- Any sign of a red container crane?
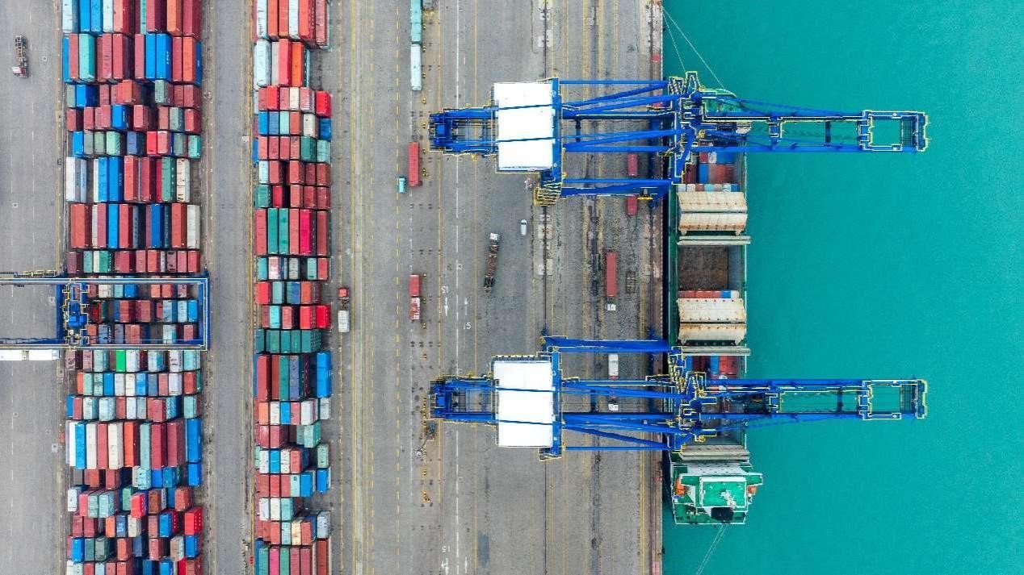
No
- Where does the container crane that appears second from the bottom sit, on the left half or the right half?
left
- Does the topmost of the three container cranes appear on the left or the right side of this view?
right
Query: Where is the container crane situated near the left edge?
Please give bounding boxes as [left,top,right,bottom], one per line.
[0,265,212,360]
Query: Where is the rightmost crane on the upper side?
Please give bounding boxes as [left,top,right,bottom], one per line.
[428,62,929,210]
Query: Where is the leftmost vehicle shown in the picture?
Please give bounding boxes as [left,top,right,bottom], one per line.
[16,35,30,79]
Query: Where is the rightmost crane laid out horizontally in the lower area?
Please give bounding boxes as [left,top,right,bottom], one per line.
[428,332,929,462]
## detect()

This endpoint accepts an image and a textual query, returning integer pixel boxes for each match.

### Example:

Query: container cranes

[428,332,929,462]
[0,265,212,360]
[428,62,929,210]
